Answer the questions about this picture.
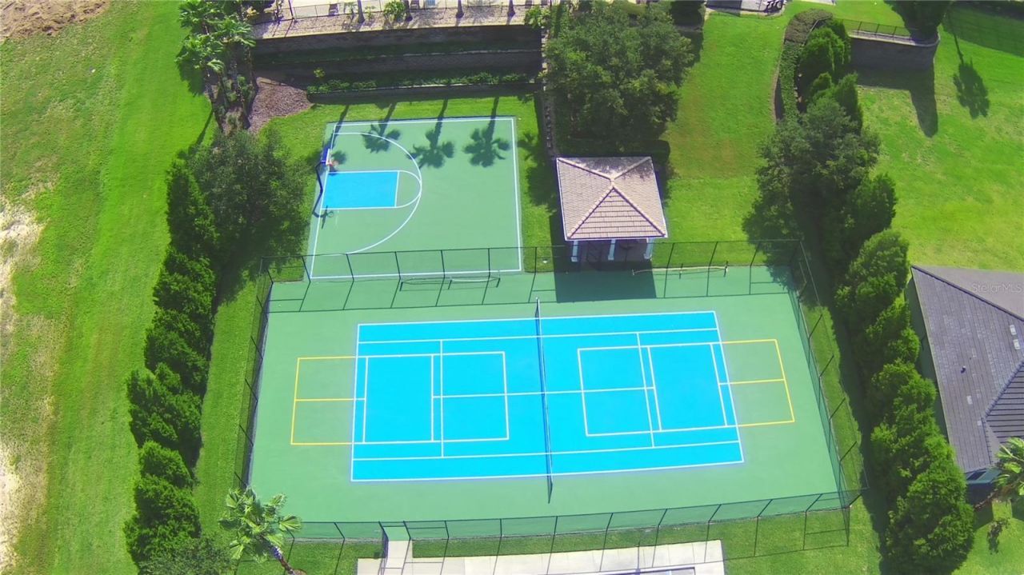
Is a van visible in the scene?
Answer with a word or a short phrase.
No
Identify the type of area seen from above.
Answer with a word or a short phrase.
sports ground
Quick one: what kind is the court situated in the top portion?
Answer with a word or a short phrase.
basketball court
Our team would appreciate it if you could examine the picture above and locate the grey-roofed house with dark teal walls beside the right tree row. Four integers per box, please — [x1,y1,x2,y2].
[903,267,1024,495]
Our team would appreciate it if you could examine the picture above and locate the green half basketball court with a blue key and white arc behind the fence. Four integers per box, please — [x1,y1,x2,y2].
[305,117,526,280]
